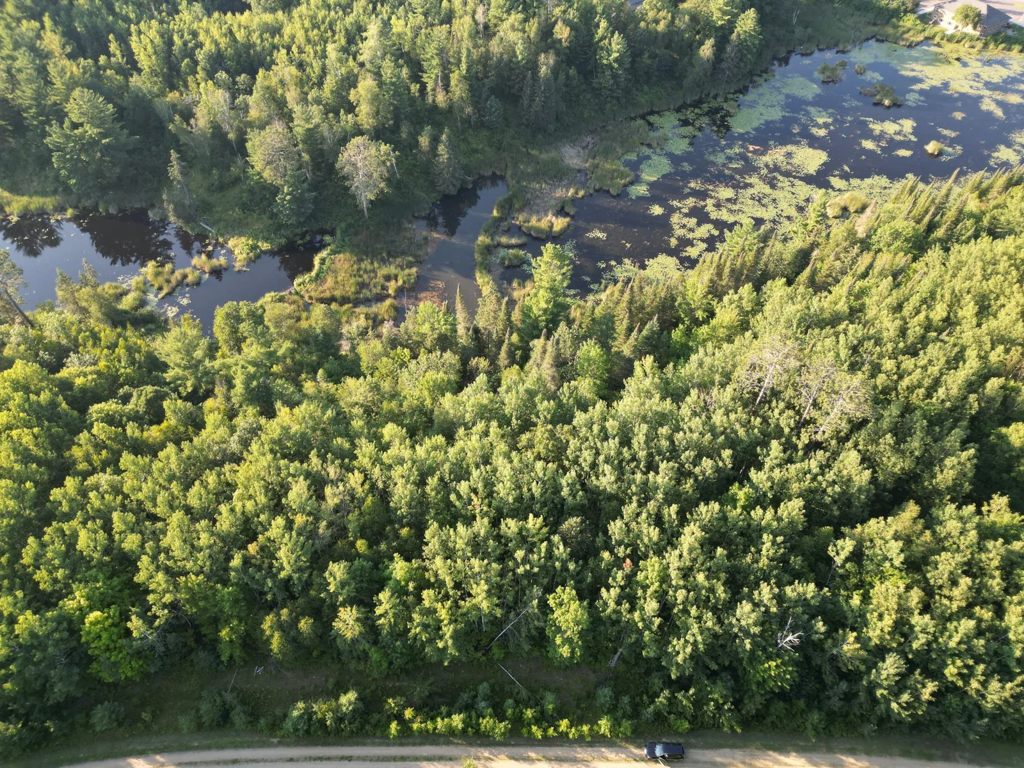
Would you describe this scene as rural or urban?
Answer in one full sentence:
The area is rural.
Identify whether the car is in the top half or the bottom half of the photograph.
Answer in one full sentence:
You can find the car in the bottom half.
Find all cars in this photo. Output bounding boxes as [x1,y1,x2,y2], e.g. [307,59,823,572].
[645,740,686,768]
